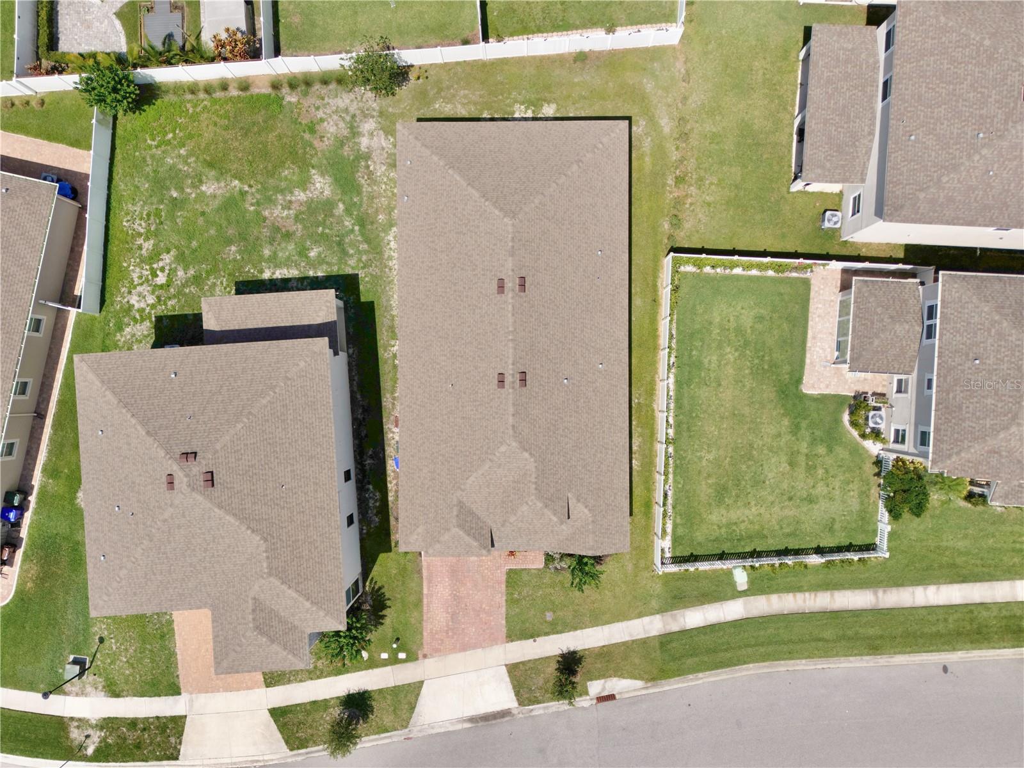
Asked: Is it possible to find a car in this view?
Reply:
No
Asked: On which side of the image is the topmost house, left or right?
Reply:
right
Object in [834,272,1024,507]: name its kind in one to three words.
house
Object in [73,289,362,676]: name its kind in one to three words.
house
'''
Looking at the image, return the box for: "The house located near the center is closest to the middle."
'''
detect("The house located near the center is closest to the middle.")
[396,119,630,557]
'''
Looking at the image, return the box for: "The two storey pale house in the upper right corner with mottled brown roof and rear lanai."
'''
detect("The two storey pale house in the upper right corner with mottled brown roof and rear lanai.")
[792,0,1024,248]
